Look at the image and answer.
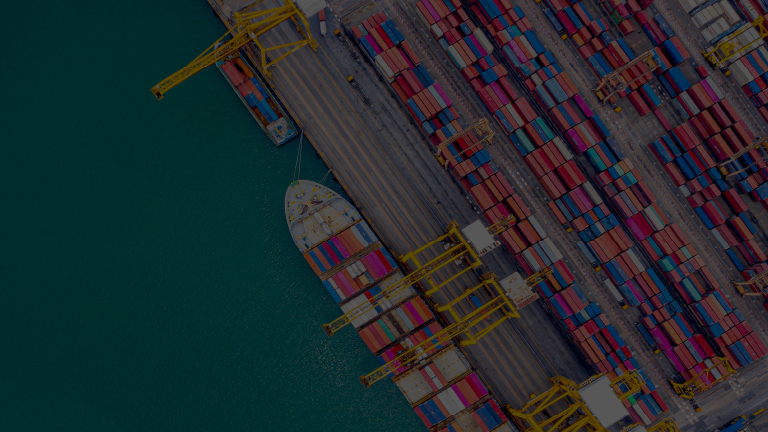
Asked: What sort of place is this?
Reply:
port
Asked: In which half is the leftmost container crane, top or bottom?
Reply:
top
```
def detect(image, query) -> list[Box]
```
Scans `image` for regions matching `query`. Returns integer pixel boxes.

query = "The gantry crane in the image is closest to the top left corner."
[146,0,334,97]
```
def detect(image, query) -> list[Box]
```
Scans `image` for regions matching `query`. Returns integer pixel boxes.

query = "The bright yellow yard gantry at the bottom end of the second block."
[662,346,742,400]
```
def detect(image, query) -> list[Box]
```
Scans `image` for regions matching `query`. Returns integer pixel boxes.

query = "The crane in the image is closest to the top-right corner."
[698,17,768,72]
